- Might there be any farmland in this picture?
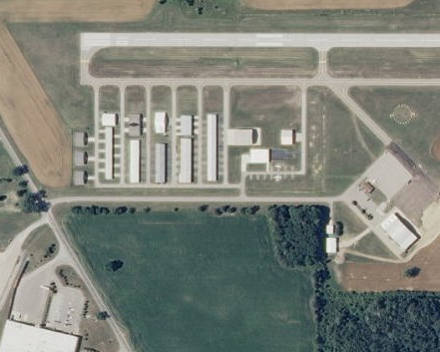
Yes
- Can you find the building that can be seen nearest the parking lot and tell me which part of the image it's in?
bottom left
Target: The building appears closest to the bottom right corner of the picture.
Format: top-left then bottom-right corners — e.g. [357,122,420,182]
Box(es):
[382,212,417,248]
